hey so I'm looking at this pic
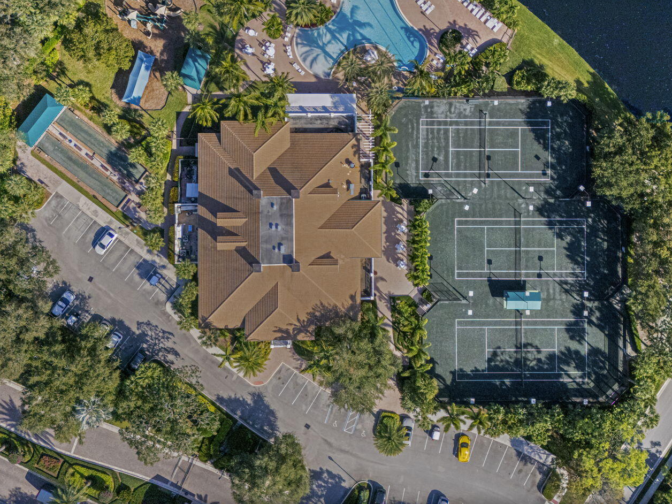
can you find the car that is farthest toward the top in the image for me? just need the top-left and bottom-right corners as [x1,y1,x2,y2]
[94,228,118,255]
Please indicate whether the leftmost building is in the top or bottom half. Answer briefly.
top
